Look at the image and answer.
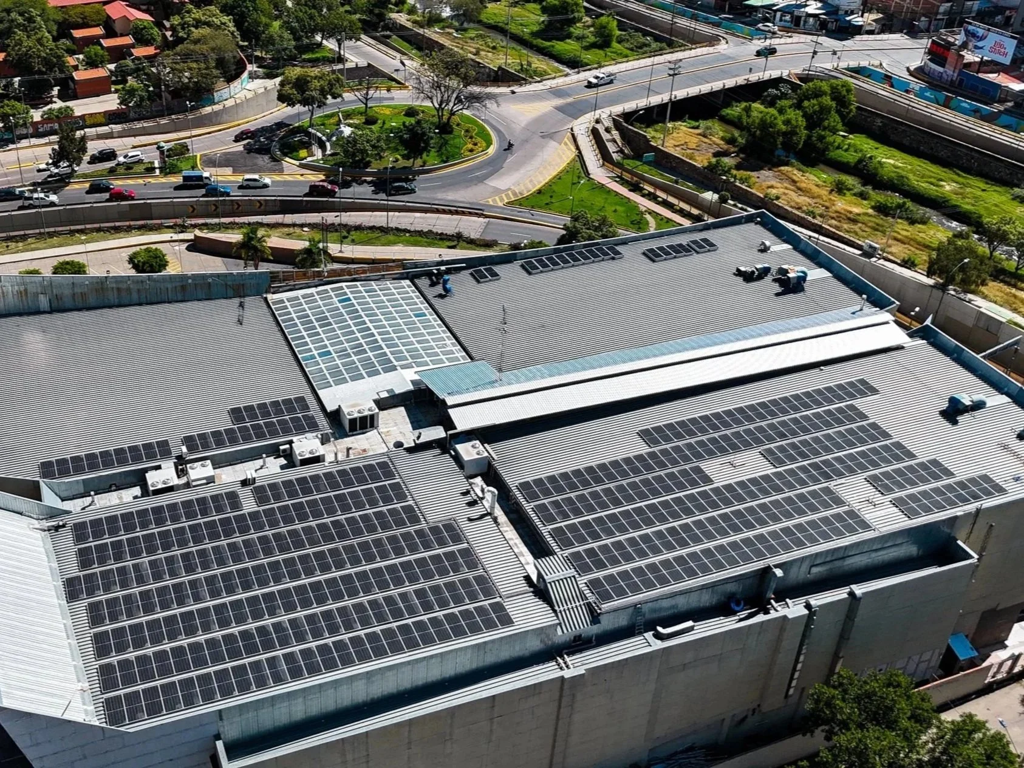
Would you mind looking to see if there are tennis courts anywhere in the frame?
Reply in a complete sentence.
No, there's no tennis court here.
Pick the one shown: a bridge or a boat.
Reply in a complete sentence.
This aerial view contains a bridge.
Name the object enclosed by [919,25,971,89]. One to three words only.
building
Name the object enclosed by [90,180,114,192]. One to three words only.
vehicle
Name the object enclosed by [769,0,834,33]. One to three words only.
building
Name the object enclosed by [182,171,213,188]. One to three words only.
vehicle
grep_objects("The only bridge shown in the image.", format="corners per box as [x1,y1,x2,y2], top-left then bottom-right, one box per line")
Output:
[529,36,783,128]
